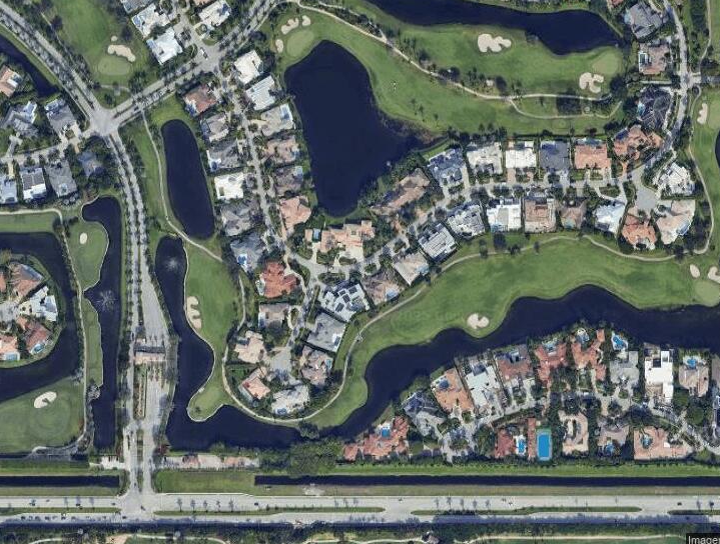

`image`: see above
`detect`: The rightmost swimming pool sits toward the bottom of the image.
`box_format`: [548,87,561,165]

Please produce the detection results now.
[684,353,698,370]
